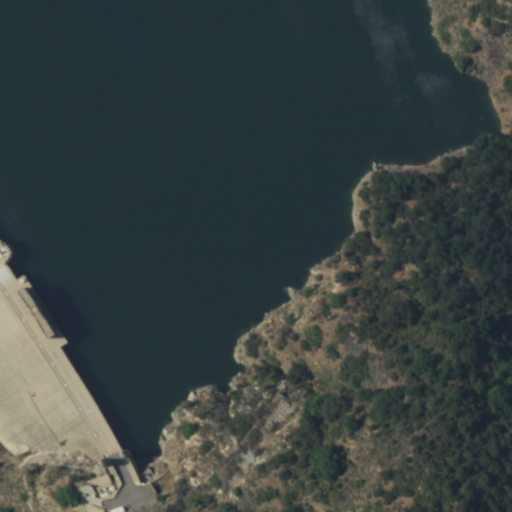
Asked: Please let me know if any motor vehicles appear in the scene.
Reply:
No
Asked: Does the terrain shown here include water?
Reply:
Yes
